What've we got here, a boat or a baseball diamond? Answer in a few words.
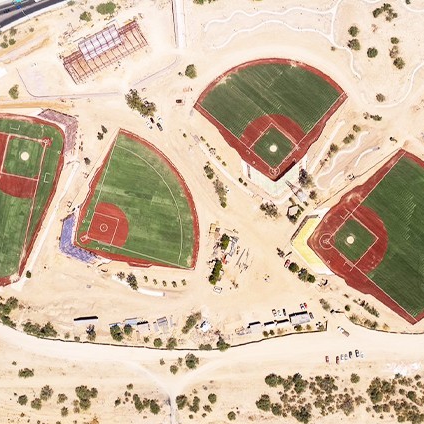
baseball diamond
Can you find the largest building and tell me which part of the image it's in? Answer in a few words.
top left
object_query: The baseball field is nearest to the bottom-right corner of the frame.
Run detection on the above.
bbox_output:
[308,149,424,324]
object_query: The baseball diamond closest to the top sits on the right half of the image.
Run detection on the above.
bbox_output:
[194,58,348,180]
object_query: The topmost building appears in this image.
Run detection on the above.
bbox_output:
[61,18,149,84]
